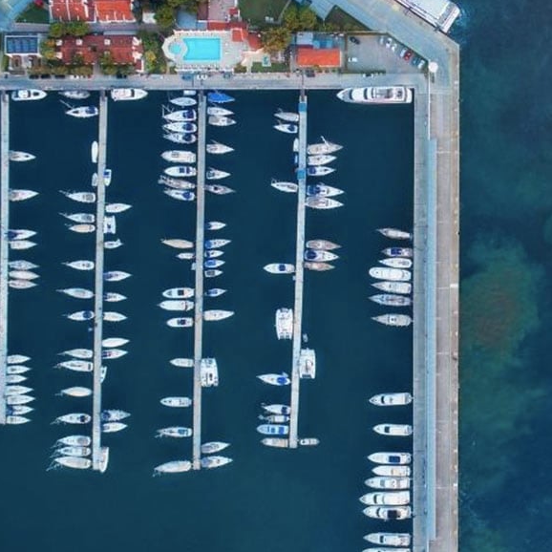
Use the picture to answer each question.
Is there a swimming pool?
Yes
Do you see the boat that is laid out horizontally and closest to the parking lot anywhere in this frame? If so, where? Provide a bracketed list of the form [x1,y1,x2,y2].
[336,86,413,102]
